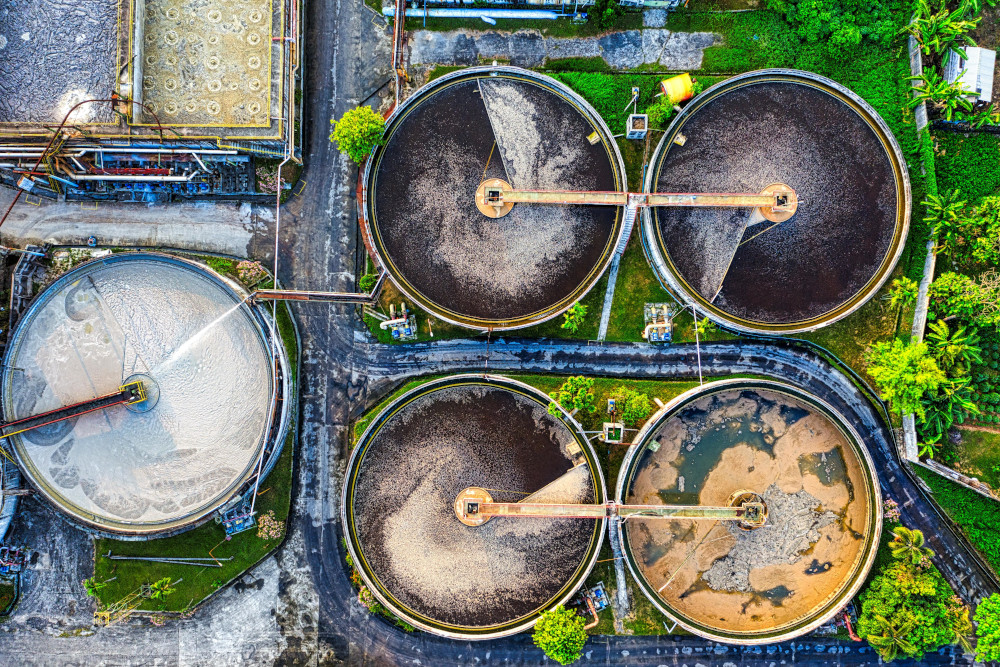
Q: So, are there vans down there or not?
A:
No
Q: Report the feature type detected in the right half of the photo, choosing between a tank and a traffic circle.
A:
tank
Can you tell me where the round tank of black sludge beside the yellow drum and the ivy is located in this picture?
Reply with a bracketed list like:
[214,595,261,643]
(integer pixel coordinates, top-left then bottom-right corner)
[640,68,912,335]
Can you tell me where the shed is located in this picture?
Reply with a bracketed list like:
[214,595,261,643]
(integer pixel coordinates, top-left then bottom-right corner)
[929,46,997,108]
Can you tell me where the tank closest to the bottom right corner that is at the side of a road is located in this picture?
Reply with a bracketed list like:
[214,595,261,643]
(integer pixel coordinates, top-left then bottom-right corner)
[612,376,884,645]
